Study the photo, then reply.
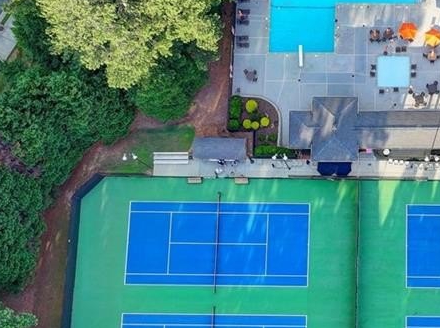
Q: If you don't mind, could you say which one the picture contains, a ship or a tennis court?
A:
tennis court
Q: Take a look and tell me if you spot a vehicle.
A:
No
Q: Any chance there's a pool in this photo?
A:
Yes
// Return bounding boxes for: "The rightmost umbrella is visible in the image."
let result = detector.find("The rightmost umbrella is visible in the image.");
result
[426,30,440,45]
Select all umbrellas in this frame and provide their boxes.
[426,30,440,45]
[400,23,417,40]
